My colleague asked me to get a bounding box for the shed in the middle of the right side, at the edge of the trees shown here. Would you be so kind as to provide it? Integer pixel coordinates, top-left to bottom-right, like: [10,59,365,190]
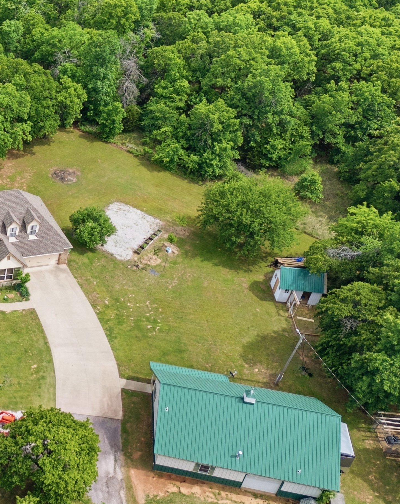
[269,267,325,305]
